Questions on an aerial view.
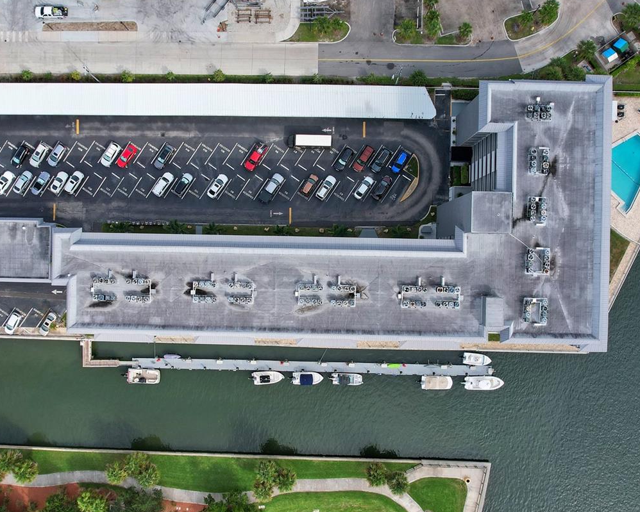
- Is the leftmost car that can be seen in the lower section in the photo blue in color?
No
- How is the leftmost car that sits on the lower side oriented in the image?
at an angle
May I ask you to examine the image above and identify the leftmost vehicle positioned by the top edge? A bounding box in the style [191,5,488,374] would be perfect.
[33,4,68,19]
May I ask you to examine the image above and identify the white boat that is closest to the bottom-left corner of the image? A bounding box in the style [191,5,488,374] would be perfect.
[123,370,160,384]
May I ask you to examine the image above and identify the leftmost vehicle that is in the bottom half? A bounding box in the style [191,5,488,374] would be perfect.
[1,310,24,337]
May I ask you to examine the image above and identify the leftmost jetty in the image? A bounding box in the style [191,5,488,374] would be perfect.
[79,342,119,368]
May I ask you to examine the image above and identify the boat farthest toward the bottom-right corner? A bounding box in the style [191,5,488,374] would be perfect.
[462,377,504,391]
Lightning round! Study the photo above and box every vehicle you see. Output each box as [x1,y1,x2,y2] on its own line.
[391,147,412,174]
[33,4,68,19]
[371,144,394,173]
[171,171,193,198]
[244,139,269,171]
[334,144,354,171]
[37,311,58,337]
[11,169,33,195]
[61,169,84,196]
[29,140,51,167]
[354,174,375,201]
[117,142,137,168]
[299,173,318,197]
[0,169,15,196]
[1,310,24,337]
[258,172,283,204]
[353,143,376,171]
[373,175,393,201]
[150,170,174,199]
[207,173,227,199]
[46,140,68,167]
[9,140,32,167]
[30,170,51,196]
[100,140,122,168]
[47,170,68,196]
[153,142,174,169]
[315,174,337,201]
[283,133,332,149]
